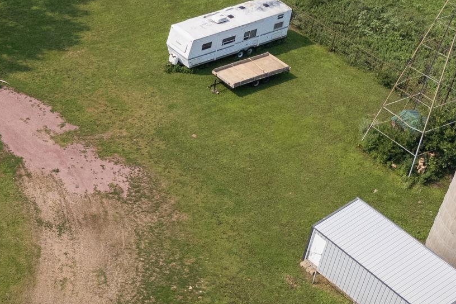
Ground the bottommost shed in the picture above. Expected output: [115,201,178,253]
[304,200,456,304]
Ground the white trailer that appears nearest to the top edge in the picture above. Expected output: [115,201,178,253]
[164,0,292,70]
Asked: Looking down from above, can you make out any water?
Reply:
No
